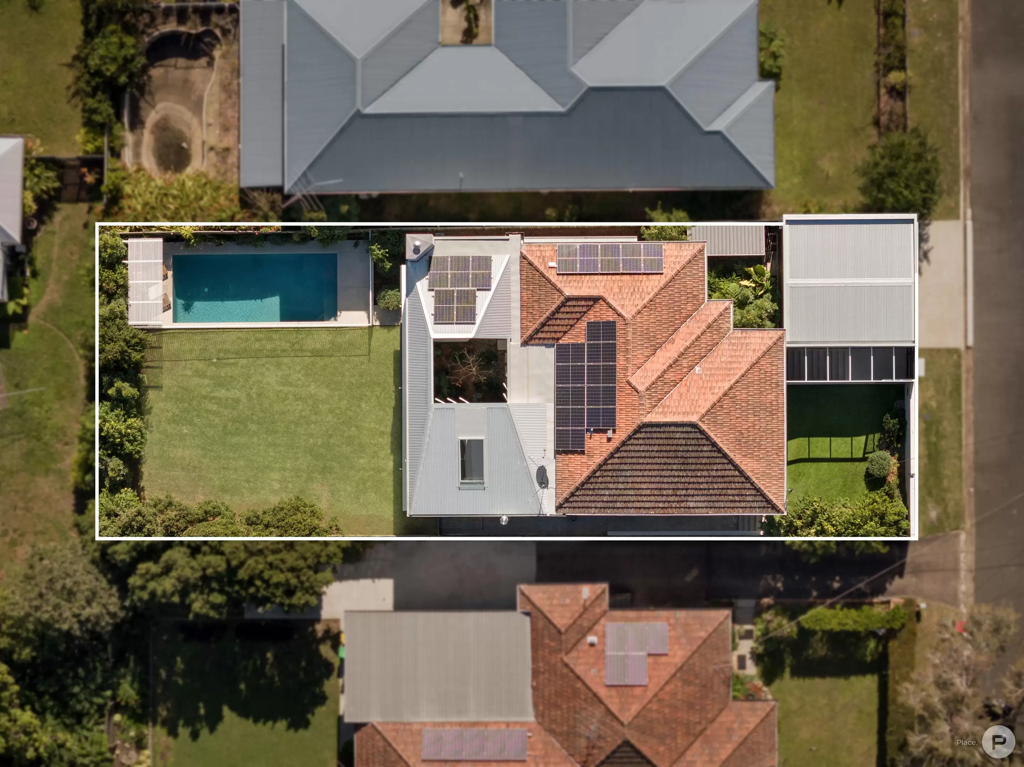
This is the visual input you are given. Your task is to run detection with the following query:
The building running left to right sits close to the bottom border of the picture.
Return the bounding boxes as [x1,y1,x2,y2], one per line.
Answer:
[344,580,780,767]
